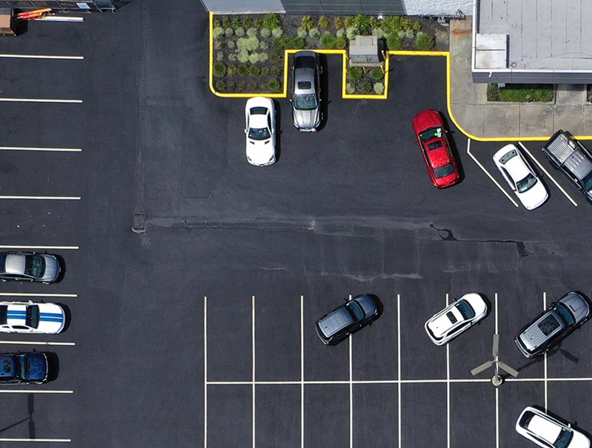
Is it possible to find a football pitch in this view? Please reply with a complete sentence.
No, no football pitch is visible in the scene.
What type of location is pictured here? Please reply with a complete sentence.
What you see here is a parking lot.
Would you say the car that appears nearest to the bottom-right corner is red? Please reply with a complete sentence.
No, the car that appears nearest to the bottom-right corner is actually white.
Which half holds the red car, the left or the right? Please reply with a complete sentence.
The red car sits on the right side.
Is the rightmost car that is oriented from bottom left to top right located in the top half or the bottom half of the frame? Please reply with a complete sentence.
The rightmost car that is oriented from bottom left to top right sits in the bottom half of the picture.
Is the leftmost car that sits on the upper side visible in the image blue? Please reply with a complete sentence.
No, the leftmost car that sits on the upper side is white.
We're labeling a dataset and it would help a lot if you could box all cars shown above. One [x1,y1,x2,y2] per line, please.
[0,298,68,336]
[287,51,326,134]
[0,348,54,389]
[415,110,460,191]
[490,140,548,215]
[513,293,592,360]
[315,293,385,348]
[242,97,279,170]
[0,247,64,285]
[516,406,591,448]
[425,291,495,350]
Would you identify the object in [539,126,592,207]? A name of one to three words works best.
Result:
truck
